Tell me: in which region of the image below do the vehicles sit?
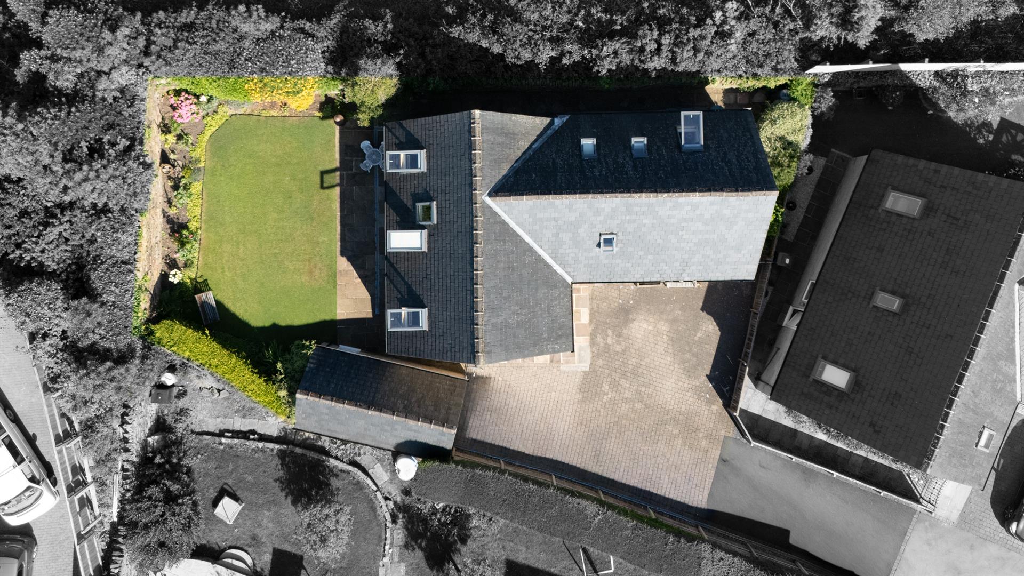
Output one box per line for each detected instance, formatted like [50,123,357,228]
[0,407,58,516]
[1004,486,1024,538]
[0,537,41,576]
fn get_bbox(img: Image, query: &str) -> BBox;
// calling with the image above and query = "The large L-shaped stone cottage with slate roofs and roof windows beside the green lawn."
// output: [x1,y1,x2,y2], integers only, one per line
[383,107,780,366]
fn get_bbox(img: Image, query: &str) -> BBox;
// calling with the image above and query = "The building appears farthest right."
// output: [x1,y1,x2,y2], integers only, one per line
[756,150,1024,490]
